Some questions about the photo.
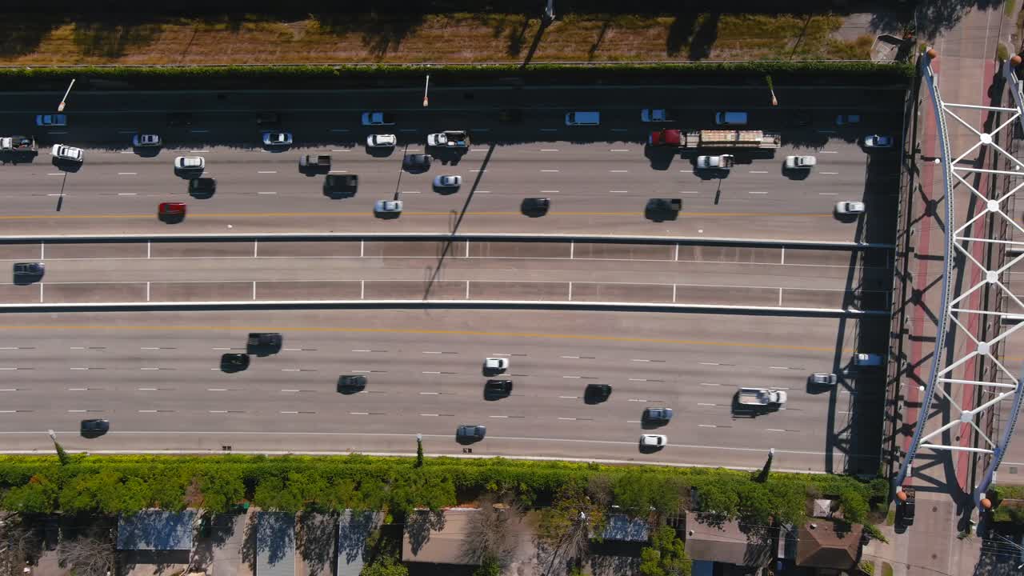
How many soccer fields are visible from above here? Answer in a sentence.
The count of soccer fields is 0.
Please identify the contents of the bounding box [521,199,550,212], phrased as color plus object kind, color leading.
black vehicle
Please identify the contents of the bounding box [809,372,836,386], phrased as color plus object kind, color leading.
gray car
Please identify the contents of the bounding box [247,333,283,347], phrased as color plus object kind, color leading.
black vehicle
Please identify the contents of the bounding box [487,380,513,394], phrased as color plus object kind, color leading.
black car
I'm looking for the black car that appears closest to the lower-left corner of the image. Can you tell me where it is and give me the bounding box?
[82,419,111,432]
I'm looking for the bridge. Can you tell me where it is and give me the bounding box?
[880,48,1024,507]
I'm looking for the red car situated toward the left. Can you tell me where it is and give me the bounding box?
[160,201,188,215]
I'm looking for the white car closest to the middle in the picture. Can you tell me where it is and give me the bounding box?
[486,358,509,370]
